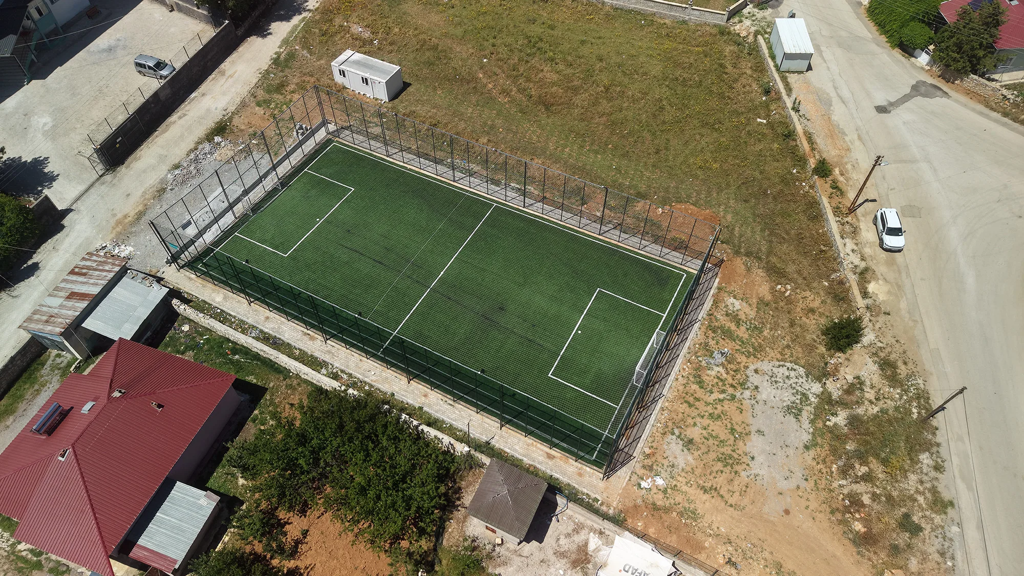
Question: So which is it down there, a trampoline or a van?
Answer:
van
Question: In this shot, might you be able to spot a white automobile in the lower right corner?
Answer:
No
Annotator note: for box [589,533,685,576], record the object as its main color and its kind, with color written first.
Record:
white tent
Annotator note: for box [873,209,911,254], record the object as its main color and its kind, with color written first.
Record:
white car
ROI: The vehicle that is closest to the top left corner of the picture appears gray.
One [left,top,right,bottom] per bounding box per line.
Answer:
[131,51,176,80]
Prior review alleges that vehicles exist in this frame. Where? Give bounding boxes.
[131,51,176,80]
[873,209,911,254]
